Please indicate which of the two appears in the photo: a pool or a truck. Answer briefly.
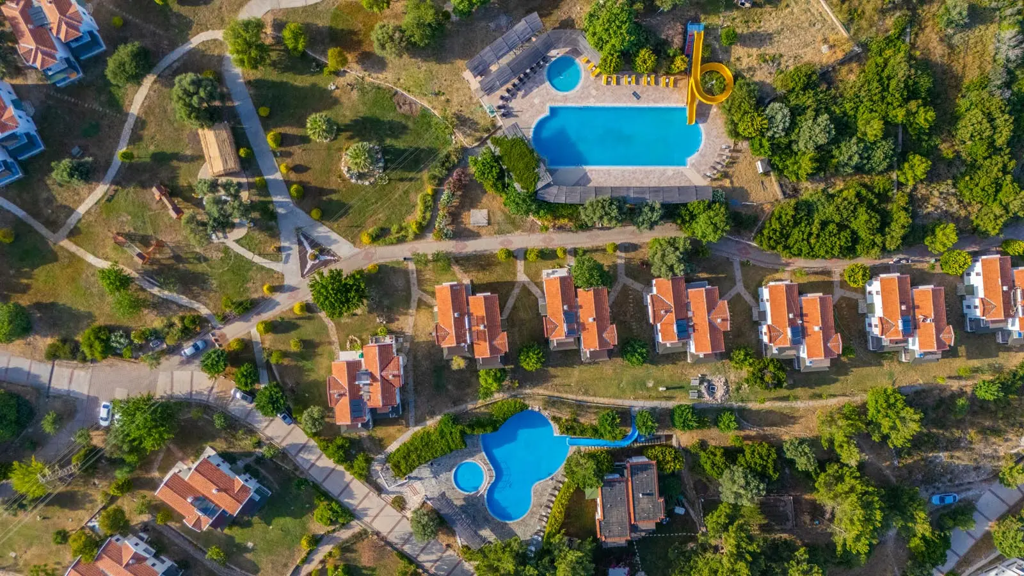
pool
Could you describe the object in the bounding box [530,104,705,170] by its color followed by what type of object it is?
blue swimming pool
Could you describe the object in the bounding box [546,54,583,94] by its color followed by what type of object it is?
blue swimming pool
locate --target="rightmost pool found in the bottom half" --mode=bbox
[478,408,572,523]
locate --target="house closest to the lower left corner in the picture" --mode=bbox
[62,517,188,576]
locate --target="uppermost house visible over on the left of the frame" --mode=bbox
[3,0,109,92]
